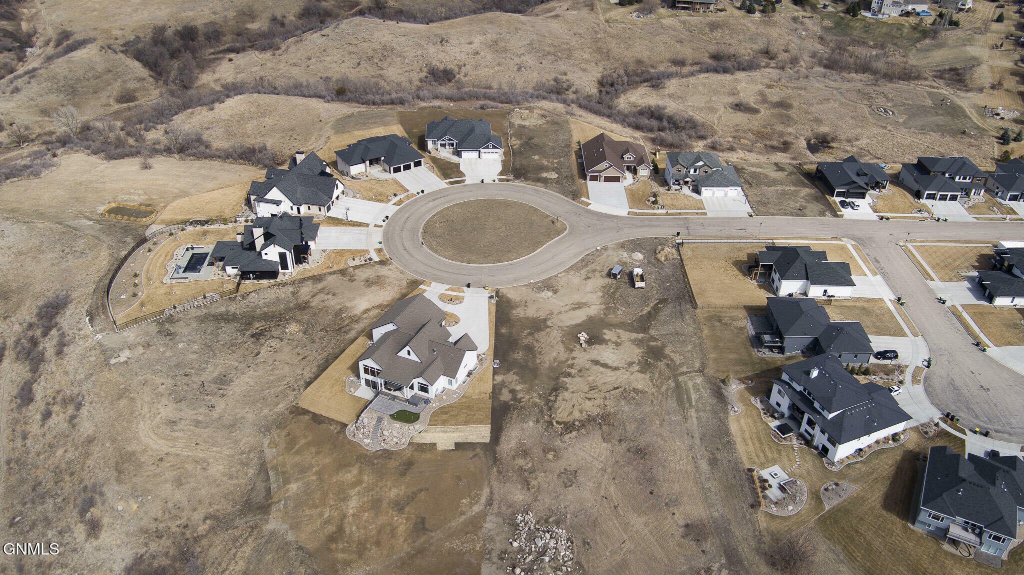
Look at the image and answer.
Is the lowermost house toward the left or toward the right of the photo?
right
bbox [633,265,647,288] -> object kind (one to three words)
vehicle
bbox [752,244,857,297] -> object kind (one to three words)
house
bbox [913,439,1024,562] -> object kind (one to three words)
house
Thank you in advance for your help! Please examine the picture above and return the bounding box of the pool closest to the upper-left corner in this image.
[181,251,209,273]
